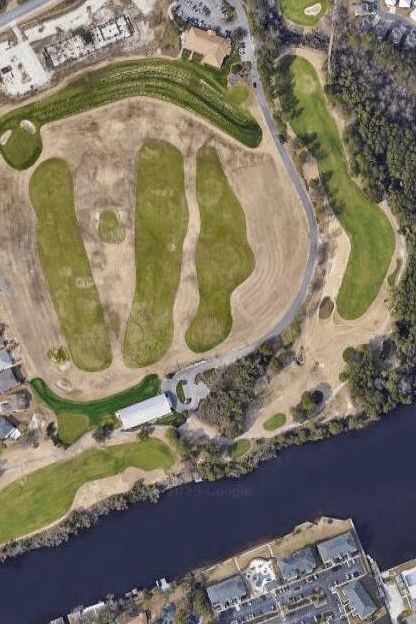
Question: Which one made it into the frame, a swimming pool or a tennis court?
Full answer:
Of the two, only a swimming pool appears.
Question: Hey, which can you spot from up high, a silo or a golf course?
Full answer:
It is a golf course that can be seen here.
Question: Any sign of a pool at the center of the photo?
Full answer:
No, I see no pool at the center of the photo.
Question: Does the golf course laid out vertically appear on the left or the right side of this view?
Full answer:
It is on the right.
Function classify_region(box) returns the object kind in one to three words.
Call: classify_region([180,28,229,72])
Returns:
building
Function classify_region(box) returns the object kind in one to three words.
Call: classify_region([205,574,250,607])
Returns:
building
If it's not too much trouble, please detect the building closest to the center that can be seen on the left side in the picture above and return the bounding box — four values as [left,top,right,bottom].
[115,393,171,430]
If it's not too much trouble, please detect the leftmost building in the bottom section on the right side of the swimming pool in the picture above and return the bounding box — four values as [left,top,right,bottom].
[275,548,317,581]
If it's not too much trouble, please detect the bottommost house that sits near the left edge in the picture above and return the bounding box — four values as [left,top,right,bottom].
[0,413,20,444]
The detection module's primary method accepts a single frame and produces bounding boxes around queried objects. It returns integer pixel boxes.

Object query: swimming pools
[245,559,276,597]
